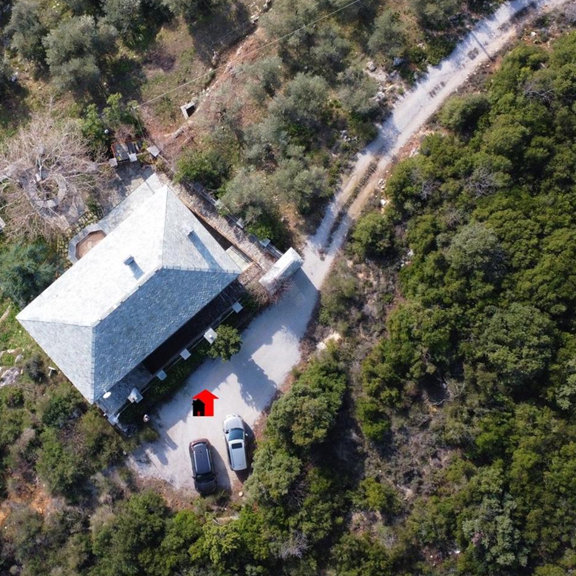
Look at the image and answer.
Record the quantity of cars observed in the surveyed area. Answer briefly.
2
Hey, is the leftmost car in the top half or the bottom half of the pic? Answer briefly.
bottom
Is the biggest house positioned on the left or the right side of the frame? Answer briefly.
left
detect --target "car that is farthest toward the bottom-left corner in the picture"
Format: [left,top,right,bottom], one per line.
[190,439,218,494]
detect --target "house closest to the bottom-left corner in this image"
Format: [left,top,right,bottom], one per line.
[15,184,242,404]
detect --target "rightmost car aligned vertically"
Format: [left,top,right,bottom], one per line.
[223,412,251,474]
